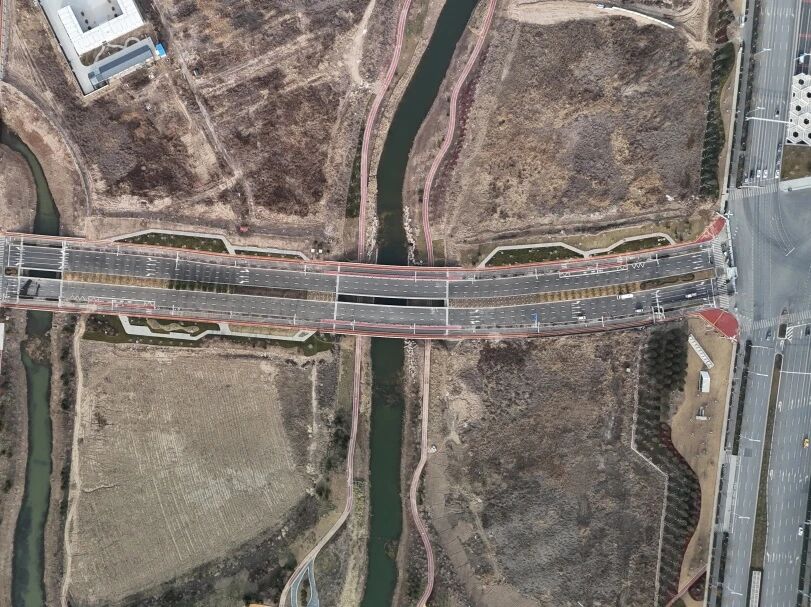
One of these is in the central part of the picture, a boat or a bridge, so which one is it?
bridge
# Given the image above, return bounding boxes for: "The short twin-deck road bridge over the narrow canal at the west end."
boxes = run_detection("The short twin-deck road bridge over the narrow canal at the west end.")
[19,232,63,308]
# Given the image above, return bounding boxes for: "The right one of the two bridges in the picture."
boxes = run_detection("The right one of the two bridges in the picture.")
[336,262,447,340]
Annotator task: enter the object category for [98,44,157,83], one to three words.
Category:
shed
